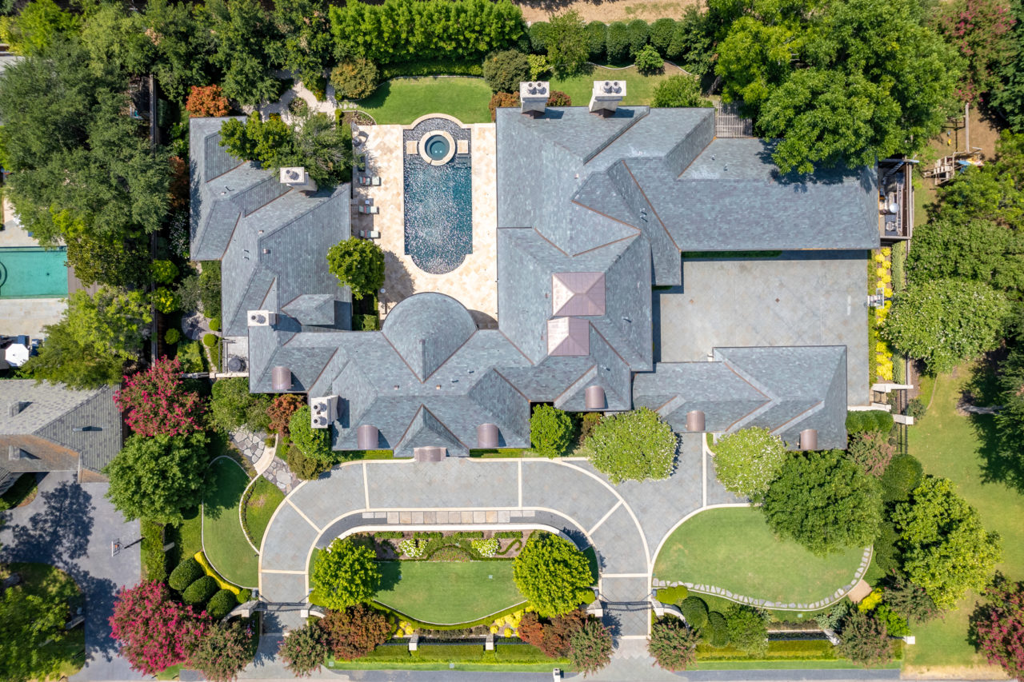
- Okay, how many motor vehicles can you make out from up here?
none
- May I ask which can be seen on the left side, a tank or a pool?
pool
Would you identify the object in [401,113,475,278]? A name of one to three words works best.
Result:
swimming pool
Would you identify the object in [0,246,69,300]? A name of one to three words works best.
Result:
swimming pool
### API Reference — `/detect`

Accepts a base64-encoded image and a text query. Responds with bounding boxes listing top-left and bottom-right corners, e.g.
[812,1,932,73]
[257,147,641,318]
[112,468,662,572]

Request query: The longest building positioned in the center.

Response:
[189,80,879,462]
